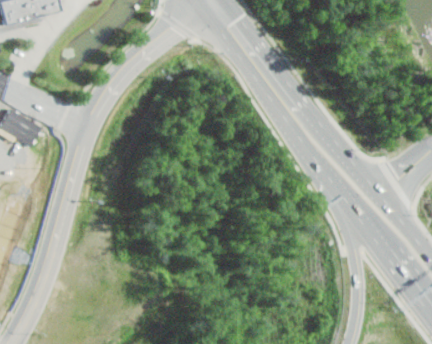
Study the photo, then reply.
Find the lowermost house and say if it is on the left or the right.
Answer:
left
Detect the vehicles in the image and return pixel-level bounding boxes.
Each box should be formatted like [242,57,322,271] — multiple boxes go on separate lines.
[405,165,414,173]
[344,149,352,158]
[421,254,429,262]
[34,104,43,111]
[14,48,26,56]
[376,184,385,194]
[383,205,391,214]
[12,144,20,156]
[312,163,320,172]
[400,266,410,277]
[354,206,362,215]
